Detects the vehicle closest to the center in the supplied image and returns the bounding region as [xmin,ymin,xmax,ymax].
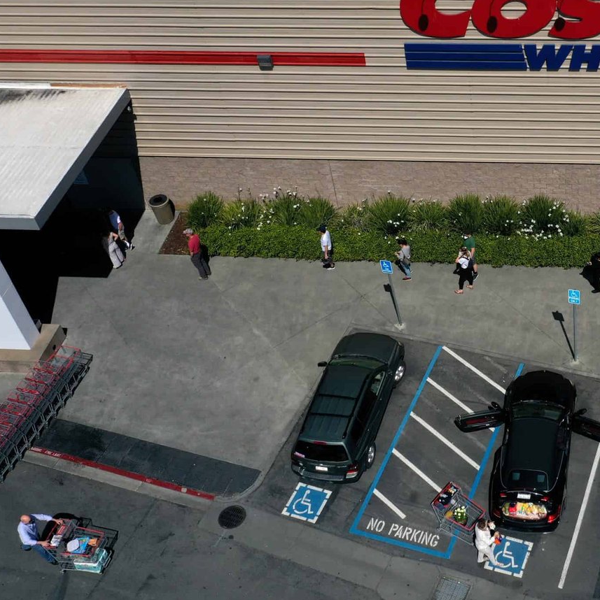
[287,333,400,487]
